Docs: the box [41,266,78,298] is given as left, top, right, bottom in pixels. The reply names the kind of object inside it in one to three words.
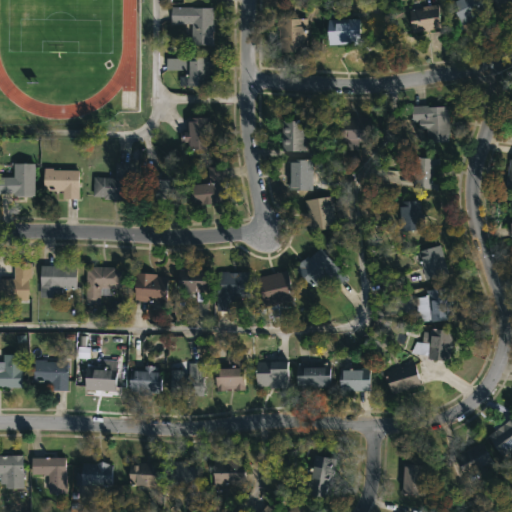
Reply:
house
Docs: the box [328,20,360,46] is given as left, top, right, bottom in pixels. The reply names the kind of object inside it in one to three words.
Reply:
house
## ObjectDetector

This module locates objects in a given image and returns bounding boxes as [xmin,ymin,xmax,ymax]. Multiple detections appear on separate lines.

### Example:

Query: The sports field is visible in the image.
[0,0,122,105]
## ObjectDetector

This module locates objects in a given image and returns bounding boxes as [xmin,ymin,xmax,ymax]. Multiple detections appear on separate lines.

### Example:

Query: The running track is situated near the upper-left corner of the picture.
[0,0,137,120]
